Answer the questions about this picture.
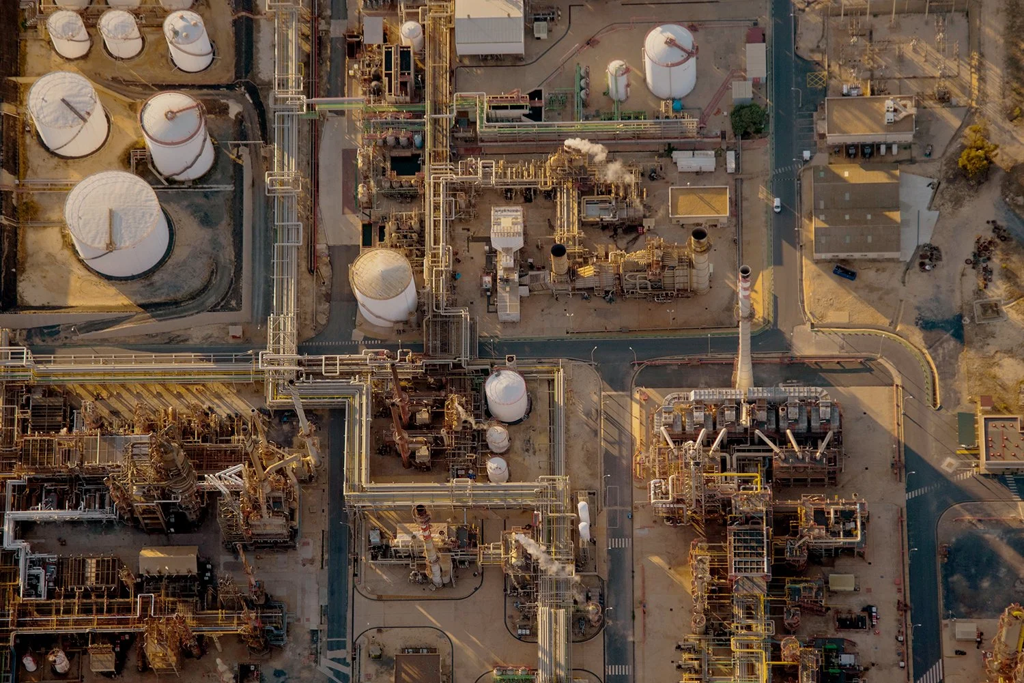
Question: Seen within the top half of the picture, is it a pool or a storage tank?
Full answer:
Visible within the top half of the picture is a storage tank.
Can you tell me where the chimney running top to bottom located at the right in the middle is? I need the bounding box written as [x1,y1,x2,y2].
[735,263,758,390]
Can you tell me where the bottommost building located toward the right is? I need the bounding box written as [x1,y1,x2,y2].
[955,622,977,639]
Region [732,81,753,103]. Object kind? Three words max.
shed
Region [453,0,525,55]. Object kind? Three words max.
building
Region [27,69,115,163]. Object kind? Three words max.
storage tank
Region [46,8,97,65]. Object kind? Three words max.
storage tank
